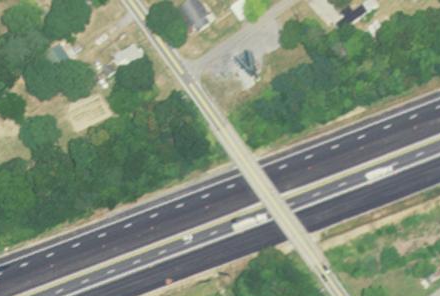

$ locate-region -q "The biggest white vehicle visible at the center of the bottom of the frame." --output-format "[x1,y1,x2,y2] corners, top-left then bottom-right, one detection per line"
[232,212,267,229]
